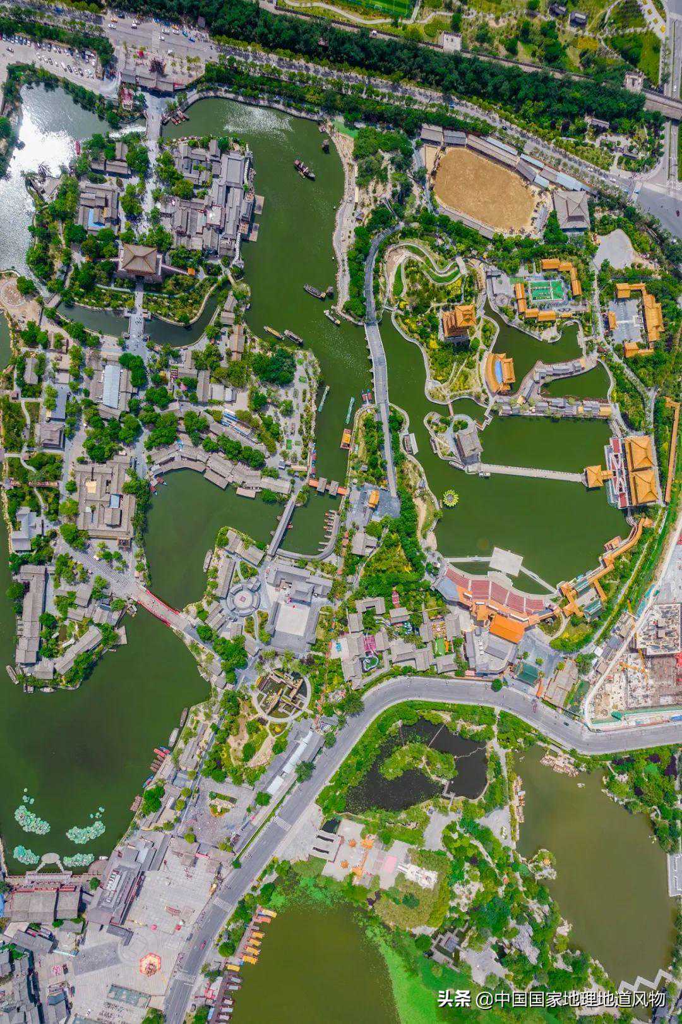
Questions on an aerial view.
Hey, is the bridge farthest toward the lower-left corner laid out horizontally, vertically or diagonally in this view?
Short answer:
diagonally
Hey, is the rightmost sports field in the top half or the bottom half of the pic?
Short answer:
top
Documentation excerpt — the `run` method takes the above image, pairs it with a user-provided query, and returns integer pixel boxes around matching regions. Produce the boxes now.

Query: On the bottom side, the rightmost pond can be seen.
[344,718,487,814]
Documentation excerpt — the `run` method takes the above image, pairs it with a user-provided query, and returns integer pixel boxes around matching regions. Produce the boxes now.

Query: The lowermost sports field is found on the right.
[431,145,537,233]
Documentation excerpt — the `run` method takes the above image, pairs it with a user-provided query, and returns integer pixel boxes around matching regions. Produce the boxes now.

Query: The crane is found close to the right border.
[617,596,649,689]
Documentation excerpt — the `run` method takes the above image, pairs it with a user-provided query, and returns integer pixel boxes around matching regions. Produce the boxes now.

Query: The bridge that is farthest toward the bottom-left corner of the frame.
[135,585,181,626]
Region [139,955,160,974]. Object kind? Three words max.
fountain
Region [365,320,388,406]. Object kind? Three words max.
bridge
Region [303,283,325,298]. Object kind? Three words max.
boat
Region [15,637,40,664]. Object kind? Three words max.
building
